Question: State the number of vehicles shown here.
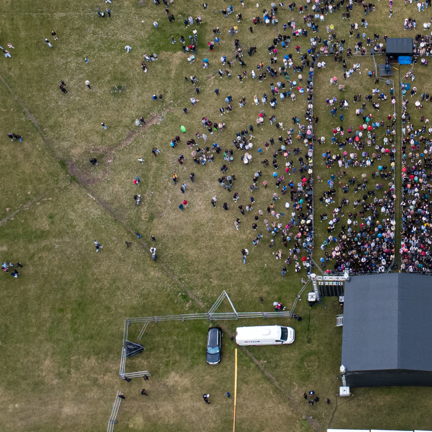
2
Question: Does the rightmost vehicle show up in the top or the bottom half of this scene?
bottom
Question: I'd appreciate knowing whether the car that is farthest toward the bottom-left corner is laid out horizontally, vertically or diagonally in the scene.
vertically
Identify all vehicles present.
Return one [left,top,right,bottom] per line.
[203,326,224,367]
[236,325,295,346]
